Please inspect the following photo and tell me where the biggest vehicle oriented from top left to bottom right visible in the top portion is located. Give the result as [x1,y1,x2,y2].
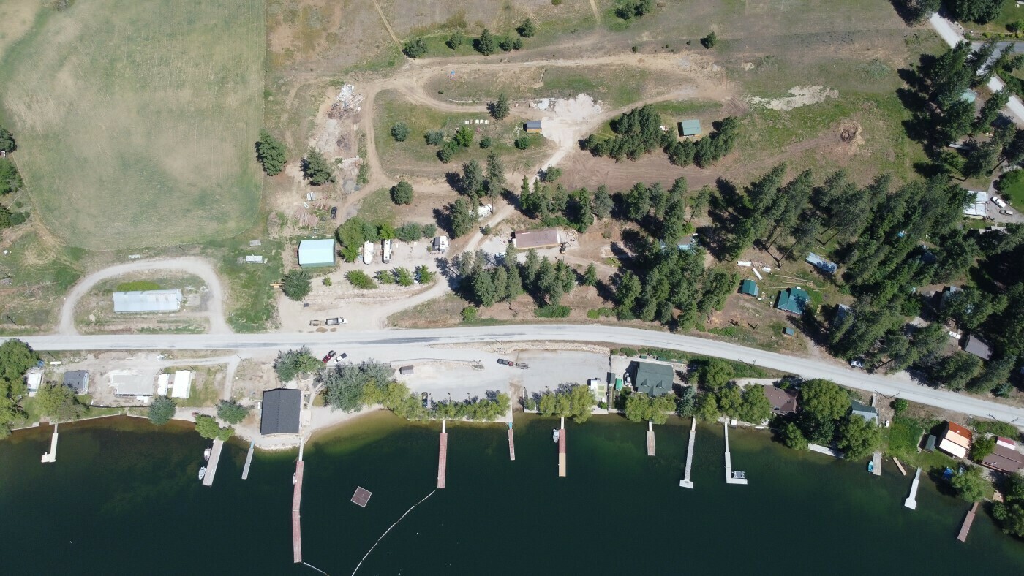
[990,195,1008,209]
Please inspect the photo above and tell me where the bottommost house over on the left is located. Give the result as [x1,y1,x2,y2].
[260,389,303,436]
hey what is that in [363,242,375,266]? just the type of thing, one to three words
vehicle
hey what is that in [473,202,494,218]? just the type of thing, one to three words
vehicle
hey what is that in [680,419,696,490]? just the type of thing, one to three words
pier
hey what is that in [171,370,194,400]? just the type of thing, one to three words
house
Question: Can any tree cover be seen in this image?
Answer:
Yes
